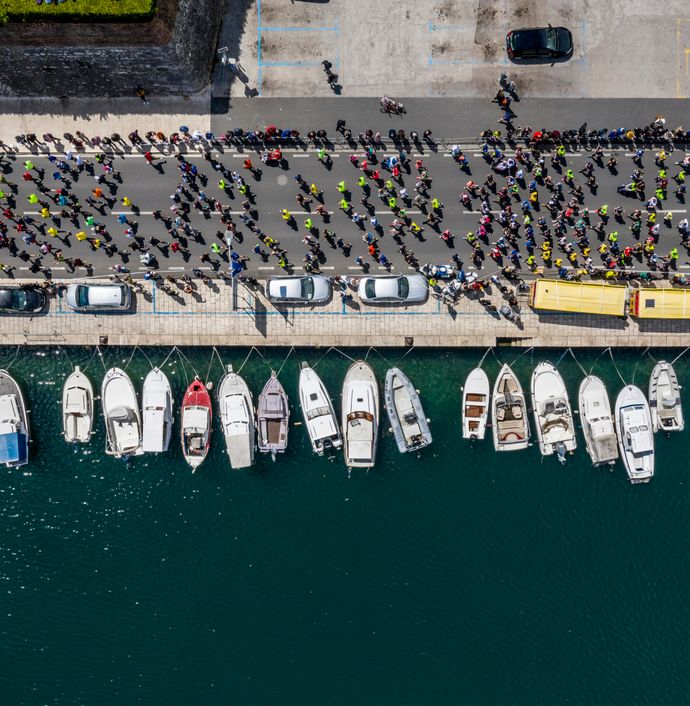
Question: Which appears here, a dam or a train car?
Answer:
train car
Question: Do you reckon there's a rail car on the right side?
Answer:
Yes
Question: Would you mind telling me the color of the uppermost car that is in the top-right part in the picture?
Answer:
black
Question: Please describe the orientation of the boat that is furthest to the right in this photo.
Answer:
up and down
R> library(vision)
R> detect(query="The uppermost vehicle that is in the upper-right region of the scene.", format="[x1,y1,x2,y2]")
[507,28,573,63]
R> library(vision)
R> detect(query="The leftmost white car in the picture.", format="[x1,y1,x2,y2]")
[67,282,130,314]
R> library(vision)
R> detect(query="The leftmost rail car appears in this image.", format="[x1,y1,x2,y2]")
[516,279,629,317]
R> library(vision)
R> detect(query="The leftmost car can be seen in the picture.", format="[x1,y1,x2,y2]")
[0,286,47,317]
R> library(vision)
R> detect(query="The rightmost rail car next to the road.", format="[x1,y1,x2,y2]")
[622,285,690,320]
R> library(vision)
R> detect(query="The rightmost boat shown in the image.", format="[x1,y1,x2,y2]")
[647,348,689,436]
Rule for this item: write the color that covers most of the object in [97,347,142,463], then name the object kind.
white boat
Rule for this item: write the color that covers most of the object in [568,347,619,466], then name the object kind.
white boat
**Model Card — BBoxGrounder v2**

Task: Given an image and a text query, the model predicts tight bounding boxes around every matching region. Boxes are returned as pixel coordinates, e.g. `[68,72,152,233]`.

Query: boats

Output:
[253,347,293,465]
[214,347,258,467]
[568,347,619,466]
[176,347,214,474]
[58,347,97,447]
[333,347,380,472]
[0,347,32,470]
[371,347,429,456]
[491,347,533,451]
[97,347,142,463]
[293,347,341,458]
[608,347,654,484]
[463,347,492,445]
[528,347,576,469]
[647,348,689,436]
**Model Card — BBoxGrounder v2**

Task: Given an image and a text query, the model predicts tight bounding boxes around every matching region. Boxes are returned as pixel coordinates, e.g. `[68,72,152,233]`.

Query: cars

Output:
[507,28,573,63]
[266,274,330,306]
[0,286,47,317]
[67,282,130,314]
[360,274,427,307]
